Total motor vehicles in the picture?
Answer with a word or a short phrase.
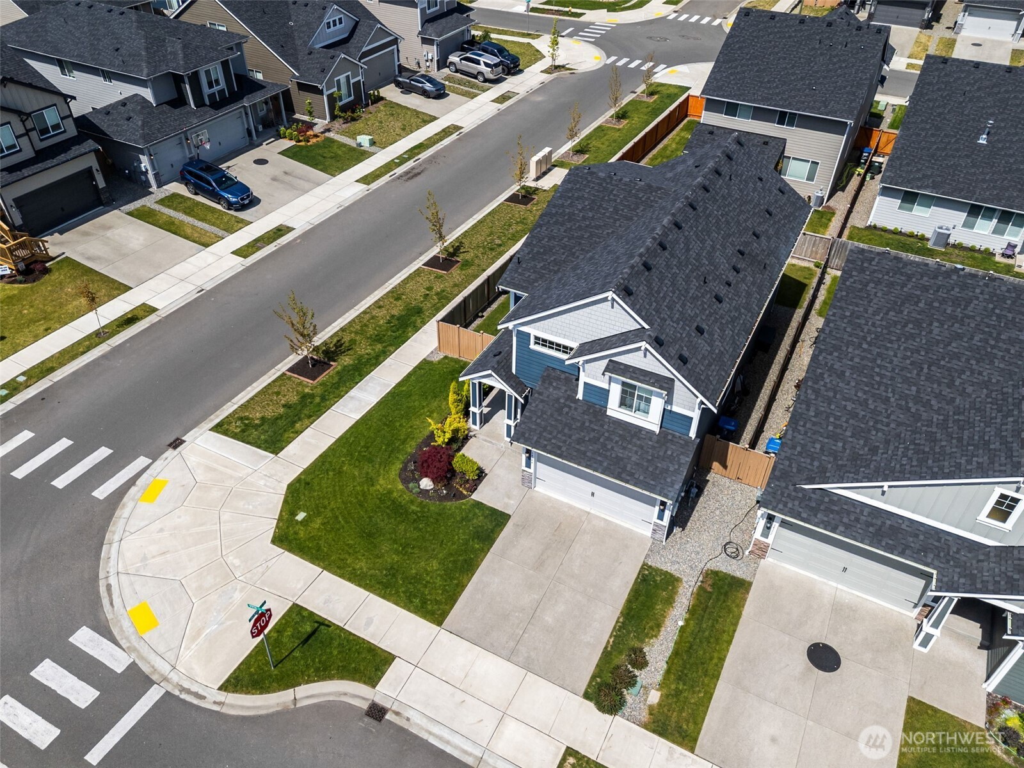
four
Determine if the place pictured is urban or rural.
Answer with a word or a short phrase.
urban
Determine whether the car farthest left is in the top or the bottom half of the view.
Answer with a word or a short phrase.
top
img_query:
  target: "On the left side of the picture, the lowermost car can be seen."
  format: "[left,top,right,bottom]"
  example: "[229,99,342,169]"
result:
[181,155,252,205]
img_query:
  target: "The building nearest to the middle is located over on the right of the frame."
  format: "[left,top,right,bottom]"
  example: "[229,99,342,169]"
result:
[458,133,815,549]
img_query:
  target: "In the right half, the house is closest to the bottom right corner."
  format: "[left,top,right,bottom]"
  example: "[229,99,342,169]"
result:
[742,244,1024,705]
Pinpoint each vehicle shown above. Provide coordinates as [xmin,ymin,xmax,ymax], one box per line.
[181,155,252,205]
[464,44,519,72]
[446,50,500,80]
[393,75,445,97]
